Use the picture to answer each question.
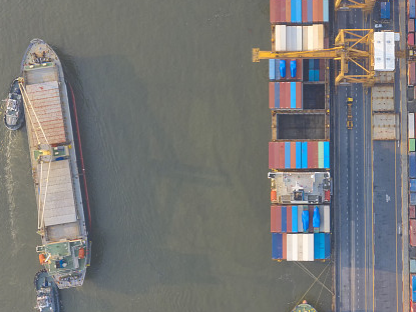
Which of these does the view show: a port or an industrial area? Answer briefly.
port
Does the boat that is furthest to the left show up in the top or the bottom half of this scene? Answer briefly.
top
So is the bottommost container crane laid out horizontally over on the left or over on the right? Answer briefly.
right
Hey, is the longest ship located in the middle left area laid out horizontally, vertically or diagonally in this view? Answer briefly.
vertically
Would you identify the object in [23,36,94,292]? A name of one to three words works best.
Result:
ship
